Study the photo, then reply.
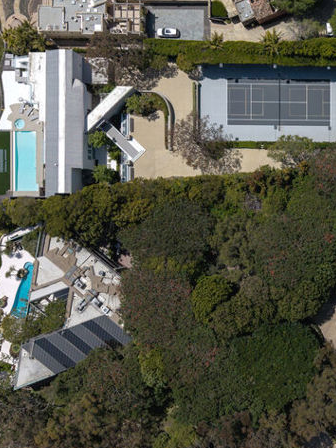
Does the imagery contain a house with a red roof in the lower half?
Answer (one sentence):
No, in the lower half there is no house with a red roof.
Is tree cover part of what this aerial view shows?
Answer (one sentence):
Yes, there's tree cover in this view.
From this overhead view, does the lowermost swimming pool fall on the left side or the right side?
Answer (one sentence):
It is on the left.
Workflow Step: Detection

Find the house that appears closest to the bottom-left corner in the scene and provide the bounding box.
[16,234,132,389]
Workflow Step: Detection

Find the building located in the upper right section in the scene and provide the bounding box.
[235,0,274,26]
